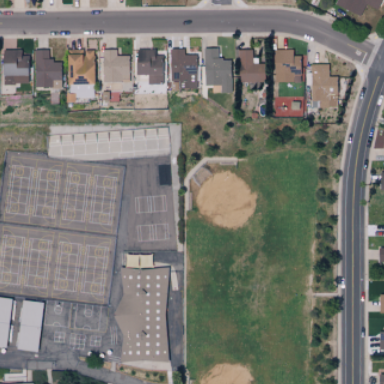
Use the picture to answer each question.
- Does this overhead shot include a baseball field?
Yes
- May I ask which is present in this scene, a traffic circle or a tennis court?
tennis court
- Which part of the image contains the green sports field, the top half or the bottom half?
bottom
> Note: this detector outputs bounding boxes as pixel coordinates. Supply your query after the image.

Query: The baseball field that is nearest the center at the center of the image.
[188,160,258,228]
